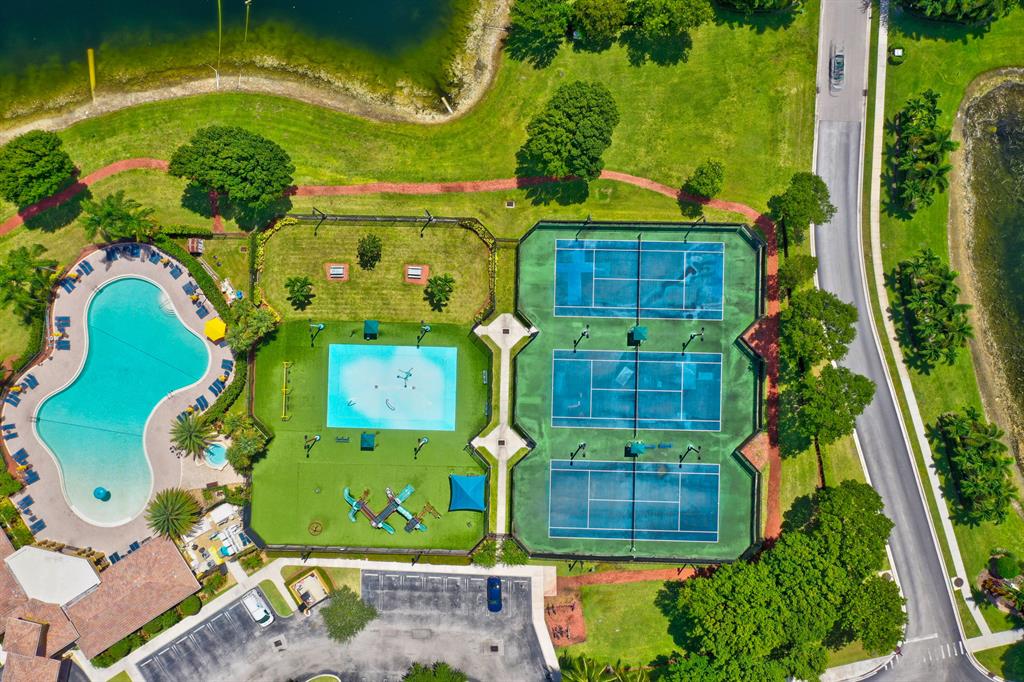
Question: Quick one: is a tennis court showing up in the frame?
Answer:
Yes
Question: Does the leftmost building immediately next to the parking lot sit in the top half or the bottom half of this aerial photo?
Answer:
bottom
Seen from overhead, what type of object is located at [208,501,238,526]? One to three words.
shed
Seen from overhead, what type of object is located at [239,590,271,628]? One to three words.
car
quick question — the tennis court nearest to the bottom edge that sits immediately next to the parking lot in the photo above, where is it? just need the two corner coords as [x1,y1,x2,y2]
[549,455,720,549]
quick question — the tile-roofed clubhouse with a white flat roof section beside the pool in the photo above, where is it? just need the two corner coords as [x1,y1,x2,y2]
[0,517,200,682]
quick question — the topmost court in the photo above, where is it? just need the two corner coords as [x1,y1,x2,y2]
[554,233,725,325]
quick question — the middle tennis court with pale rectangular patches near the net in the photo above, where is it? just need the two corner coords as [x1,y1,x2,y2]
[551,345,722,437]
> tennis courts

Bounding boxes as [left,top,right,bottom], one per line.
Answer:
[549,455,720,549]
[554,233,725,325]
[551,345,722,437]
